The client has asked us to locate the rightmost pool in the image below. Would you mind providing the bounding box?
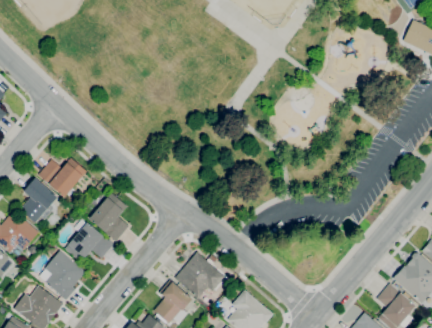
[58,223,74,245]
